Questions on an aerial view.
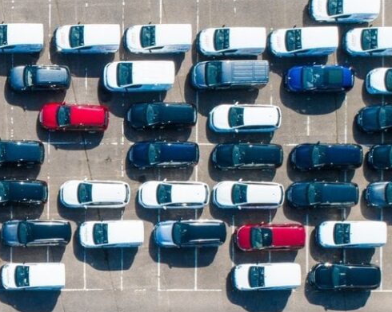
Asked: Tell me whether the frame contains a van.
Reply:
Yes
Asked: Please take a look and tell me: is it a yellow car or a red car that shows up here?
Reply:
red car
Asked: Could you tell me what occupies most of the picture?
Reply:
paved ground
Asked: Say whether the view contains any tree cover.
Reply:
No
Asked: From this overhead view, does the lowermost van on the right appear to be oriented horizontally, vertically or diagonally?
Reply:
horizontally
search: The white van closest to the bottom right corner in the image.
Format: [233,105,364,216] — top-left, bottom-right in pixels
[315,216,387,251]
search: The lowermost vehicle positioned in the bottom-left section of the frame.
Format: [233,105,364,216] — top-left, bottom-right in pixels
[1,261,66,293]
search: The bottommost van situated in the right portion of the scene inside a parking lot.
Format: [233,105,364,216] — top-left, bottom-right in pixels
[230,261,301,295]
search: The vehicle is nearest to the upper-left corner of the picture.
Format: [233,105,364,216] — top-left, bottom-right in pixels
[0,23,44,55]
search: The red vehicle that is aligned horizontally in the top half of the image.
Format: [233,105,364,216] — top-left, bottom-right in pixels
[40,99,110,134]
